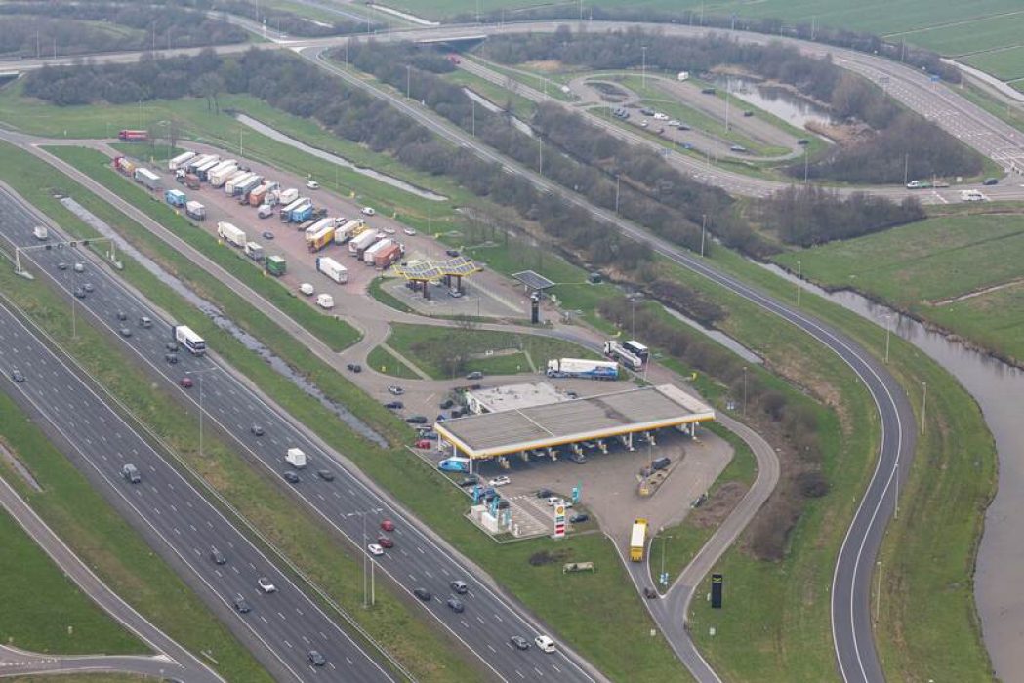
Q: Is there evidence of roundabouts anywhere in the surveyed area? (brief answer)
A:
No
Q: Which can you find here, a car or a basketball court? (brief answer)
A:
car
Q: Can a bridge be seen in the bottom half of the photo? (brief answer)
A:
No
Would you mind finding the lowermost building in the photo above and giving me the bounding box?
[465,380,586,416]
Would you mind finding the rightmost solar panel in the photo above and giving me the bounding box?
[513,270,553,287]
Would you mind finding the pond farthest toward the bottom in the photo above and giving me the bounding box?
[706,76,837,140]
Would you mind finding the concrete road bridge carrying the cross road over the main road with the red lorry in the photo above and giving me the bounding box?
[403,20,497,44]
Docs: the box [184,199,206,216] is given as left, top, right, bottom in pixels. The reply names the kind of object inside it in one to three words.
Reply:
vehicle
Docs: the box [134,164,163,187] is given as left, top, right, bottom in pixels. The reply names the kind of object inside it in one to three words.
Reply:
truck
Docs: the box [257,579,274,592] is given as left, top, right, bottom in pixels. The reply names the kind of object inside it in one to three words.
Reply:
vehicle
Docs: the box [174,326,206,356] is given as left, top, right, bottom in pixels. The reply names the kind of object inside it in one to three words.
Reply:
truck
